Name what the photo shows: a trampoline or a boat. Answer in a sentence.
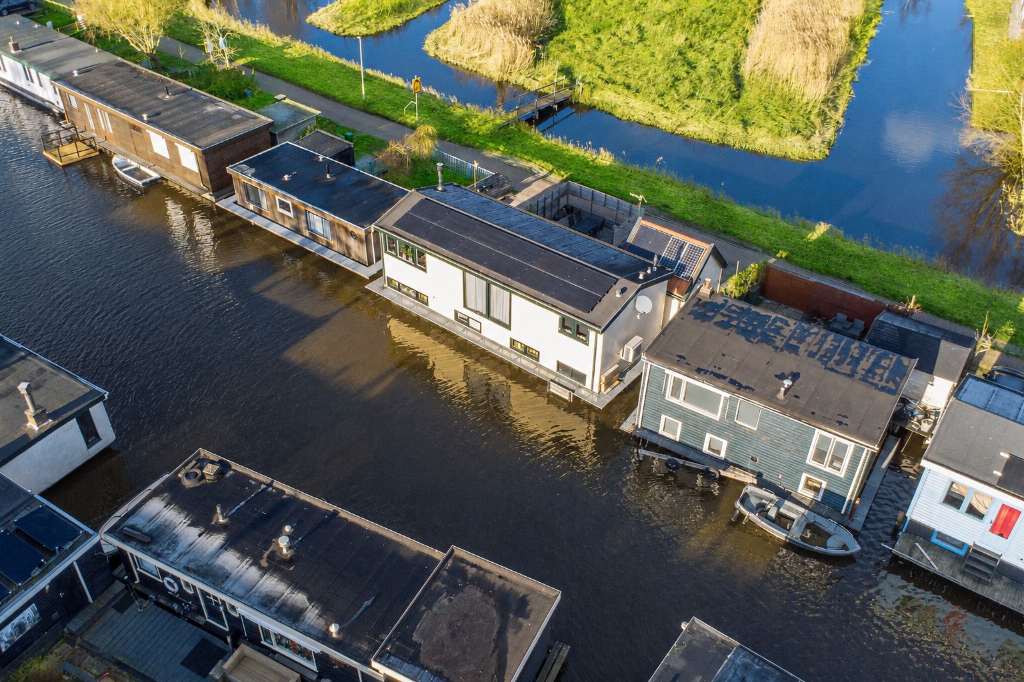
Of the two, only a boat appears.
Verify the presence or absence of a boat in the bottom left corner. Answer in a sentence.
Yes, a boat shows up in the bottom left corner.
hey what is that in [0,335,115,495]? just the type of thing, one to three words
boat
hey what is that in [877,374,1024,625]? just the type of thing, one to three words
boat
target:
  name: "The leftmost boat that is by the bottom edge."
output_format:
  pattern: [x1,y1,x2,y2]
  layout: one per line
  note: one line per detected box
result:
[0,475,111,664]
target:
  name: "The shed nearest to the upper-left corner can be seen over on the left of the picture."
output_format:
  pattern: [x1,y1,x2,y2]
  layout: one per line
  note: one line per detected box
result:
[256,93,326,141]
